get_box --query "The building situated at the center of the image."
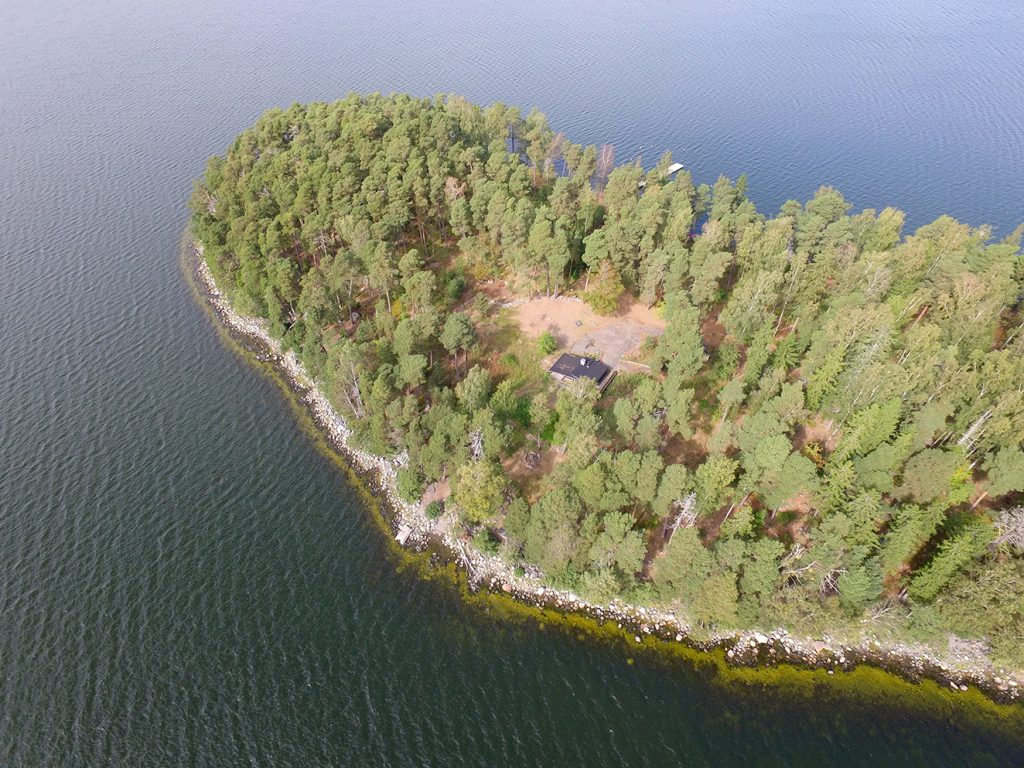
[552,352,618,400]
